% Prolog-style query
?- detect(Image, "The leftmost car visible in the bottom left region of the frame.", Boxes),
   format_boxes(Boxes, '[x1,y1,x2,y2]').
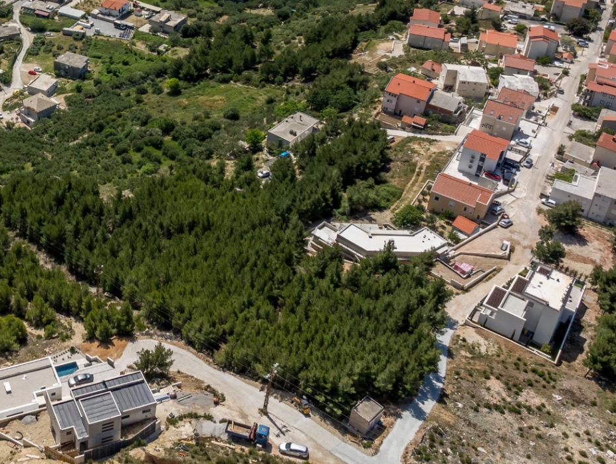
[70,369,92,383]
